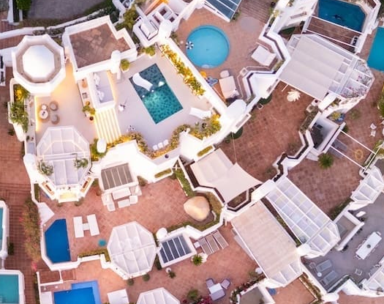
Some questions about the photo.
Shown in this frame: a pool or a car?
pool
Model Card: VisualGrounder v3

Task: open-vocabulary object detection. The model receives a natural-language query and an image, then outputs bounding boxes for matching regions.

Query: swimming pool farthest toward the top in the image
[315,0,367,33]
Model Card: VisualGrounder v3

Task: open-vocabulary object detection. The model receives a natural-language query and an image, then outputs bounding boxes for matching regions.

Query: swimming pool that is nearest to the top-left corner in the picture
[128,62,184,126]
